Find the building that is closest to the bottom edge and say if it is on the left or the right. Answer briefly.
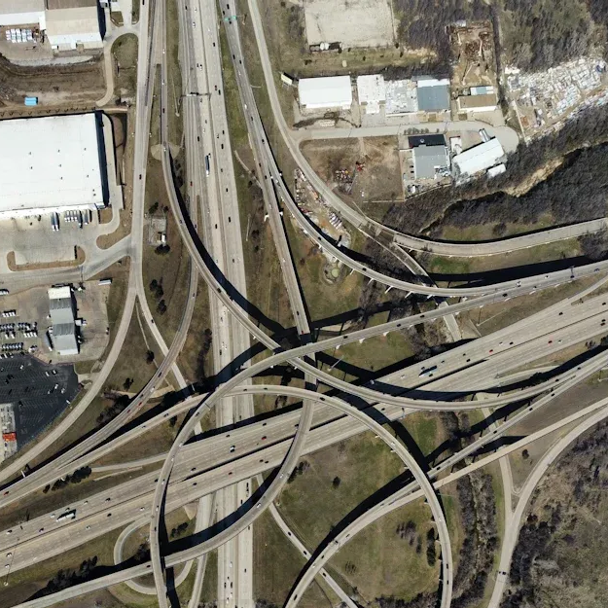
left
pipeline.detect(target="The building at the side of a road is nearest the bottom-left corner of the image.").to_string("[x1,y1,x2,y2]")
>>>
[47,286,80,357]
